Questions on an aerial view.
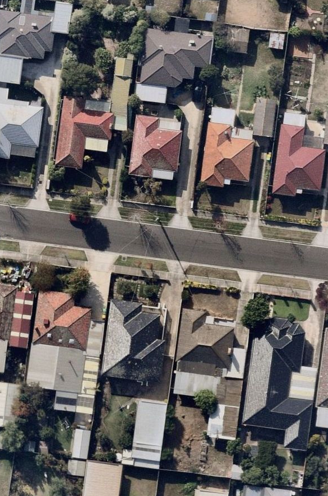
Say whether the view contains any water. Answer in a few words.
No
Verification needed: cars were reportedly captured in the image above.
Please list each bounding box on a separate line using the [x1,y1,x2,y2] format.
[192,80,204,105]
[69,213,90,224]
